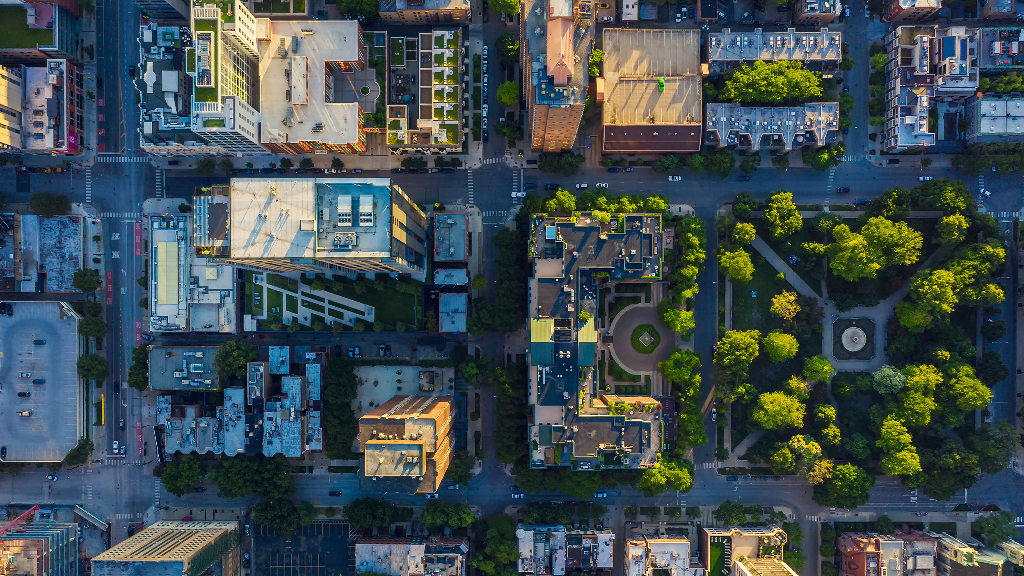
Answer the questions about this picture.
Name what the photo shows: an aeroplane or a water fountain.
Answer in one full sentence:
Looking from above, you can make out a water fountain.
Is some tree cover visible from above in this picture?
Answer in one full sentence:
Yes, there's tree cover in this view.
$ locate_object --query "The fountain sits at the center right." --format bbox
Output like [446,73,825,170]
[842,326,868,352]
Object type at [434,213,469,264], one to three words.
building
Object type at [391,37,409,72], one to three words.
house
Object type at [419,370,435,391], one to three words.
building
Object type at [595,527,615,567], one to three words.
house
